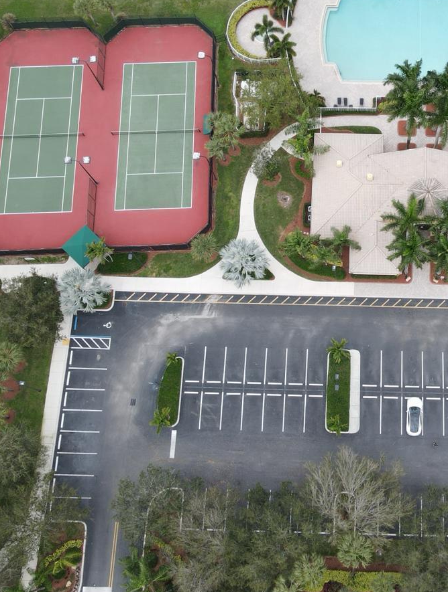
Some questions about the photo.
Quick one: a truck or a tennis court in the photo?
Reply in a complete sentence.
This aerial view contains a tennis court.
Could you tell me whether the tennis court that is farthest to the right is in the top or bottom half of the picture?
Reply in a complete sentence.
Seen from above, the tennis court that is farthest to the right lies in the top half of the view.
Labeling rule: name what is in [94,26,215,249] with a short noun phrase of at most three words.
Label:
tennis court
